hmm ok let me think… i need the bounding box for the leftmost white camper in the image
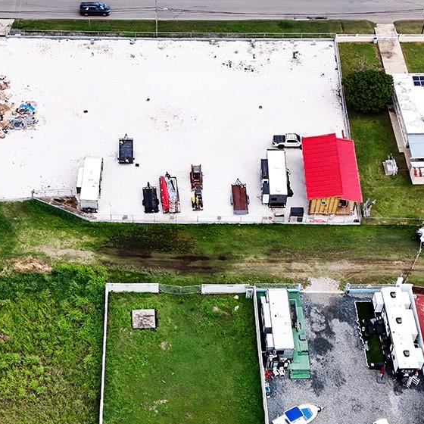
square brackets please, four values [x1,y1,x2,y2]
[76,159,102,213]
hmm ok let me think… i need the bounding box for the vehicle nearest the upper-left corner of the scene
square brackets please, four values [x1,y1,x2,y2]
[79,0,111,17]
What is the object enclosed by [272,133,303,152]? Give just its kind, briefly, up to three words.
vehicle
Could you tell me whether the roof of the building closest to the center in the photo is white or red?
red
